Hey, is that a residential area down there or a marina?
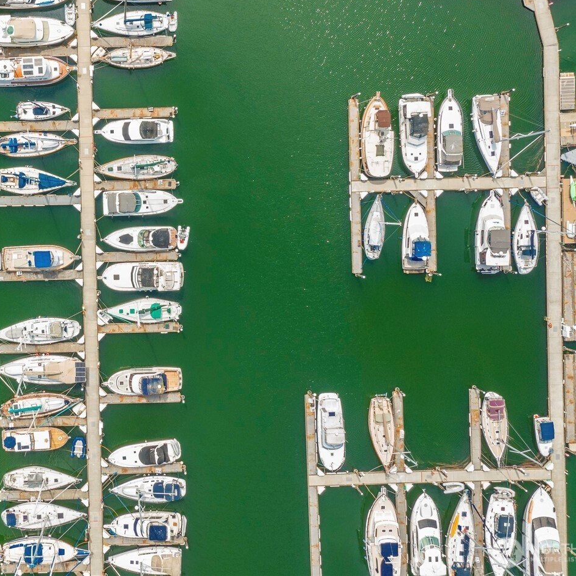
marina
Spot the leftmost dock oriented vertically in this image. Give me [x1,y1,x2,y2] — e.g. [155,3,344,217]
[76,0,104,576]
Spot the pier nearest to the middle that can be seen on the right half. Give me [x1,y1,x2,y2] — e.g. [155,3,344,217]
[350,192,362,275]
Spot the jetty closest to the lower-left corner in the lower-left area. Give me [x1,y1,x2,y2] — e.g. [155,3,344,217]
[1,561,90,574]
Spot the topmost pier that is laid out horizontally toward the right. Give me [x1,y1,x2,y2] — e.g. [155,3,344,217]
[351,177,546,192]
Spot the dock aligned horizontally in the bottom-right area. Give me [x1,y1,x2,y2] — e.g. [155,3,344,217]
[308,469,551,487]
